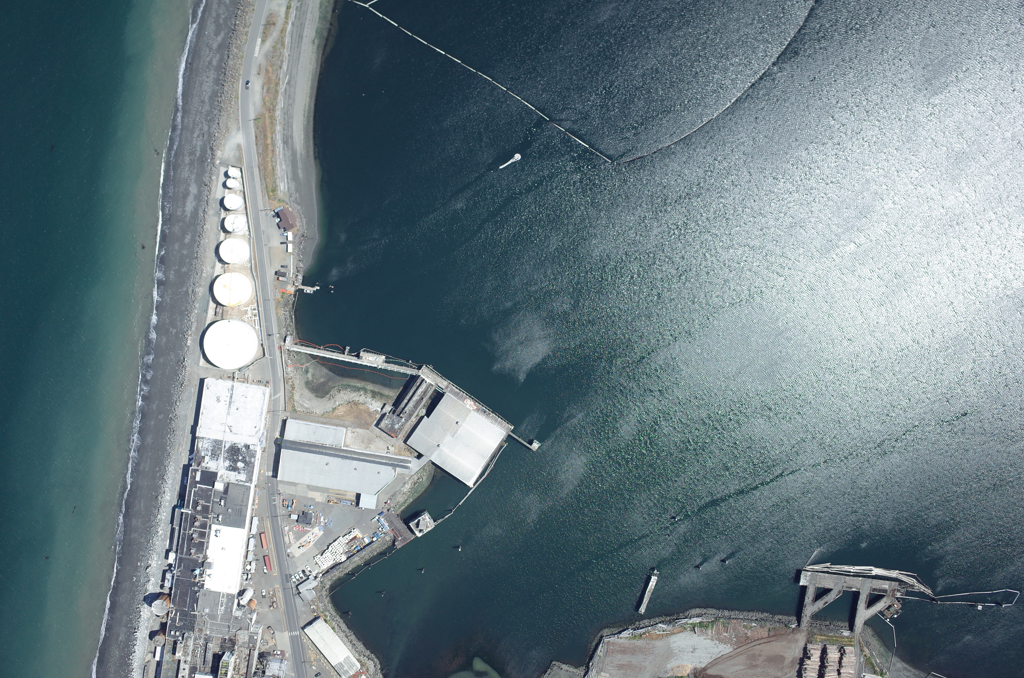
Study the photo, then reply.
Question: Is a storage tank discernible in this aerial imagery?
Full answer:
Yes, a storage tank can be made out from above.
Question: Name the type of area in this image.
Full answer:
It's a port.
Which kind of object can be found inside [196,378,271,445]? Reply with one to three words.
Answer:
building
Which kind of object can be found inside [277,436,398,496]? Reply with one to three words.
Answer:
building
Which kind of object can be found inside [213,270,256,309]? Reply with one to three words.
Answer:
storage tank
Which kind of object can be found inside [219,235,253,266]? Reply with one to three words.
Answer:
storage tank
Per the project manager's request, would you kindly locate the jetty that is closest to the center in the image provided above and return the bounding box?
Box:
[407,366,513,485]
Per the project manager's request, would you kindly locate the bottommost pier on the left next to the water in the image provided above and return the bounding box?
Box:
[381,508,415,548]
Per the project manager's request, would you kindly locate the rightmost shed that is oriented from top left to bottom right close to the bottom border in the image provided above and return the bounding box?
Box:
[304,617,363,678]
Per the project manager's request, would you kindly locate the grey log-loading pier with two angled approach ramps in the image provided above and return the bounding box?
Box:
[799,570,898,633]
